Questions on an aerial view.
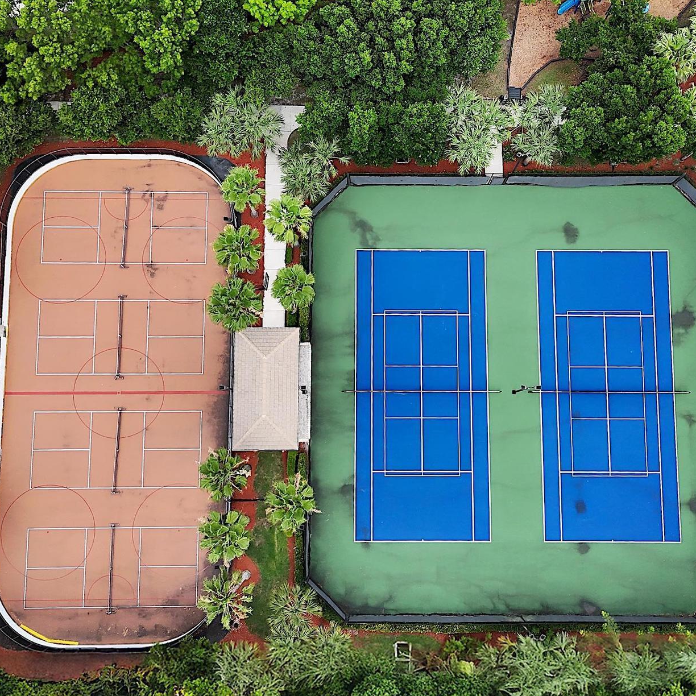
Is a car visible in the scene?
No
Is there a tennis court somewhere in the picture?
Yes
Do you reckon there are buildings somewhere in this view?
Yes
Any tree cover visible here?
Yes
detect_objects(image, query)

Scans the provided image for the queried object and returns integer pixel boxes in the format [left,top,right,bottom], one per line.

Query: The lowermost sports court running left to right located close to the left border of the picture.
[24,527,199,608]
